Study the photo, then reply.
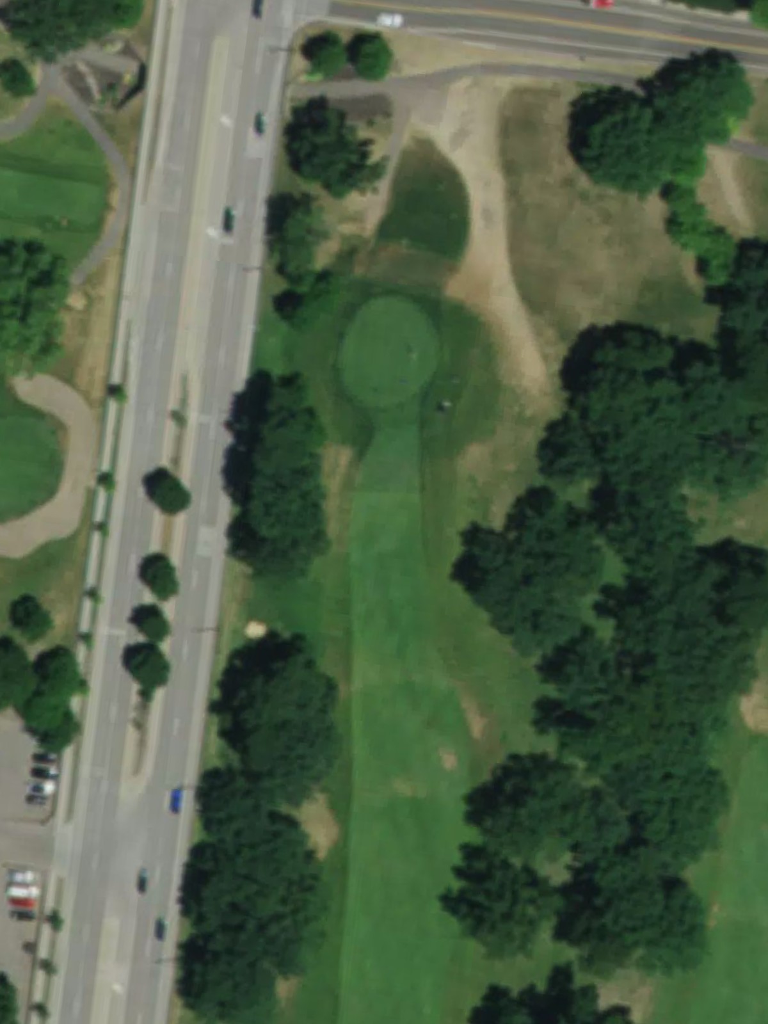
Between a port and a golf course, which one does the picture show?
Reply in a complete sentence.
What you see here is a golf course.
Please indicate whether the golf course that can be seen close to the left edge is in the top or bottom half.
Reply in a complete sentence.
You can find the golf course that can be seen close to the left edge in the top half.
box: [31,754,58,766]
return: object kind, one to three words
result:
vehicle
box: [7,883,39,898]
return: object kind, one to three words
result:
vehicle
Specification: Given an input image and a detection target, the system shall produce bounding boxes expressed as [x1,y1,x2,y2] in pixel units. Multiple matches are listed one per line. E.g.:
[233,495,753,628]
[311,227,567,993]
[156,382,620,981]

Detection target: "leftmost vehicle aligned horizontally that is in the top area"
[376,14,404,27]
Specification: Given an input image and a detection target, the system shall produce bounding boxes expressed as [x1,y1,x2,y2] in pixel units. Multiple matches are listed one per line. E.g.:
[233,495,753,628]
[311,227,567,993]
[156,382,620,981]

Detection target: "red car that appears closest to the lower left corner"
[8,897,35,910]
